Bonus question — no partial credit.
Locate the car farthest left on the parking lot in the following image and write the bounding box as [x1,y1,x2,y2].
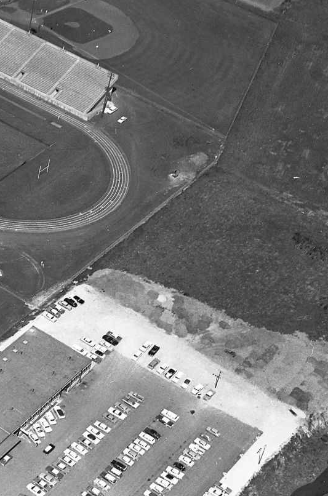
[0,453,14,467]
